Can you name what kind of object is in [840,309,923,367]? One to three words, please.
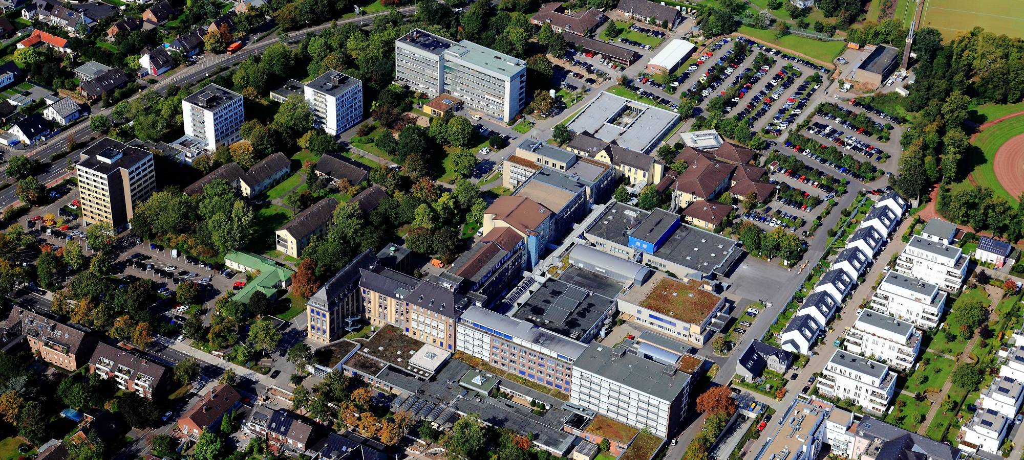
house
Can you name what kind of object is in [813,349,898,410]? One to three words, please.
house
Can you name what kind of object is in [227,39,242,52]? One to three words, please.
vehicle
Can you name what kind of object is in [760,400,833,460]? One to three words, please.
building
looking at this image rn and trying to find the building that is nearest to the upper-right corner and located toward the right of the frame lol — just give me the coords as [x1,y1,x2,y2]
[856,44,899,86]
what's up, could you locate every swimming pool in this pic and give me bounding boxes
[59,406,86,425]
